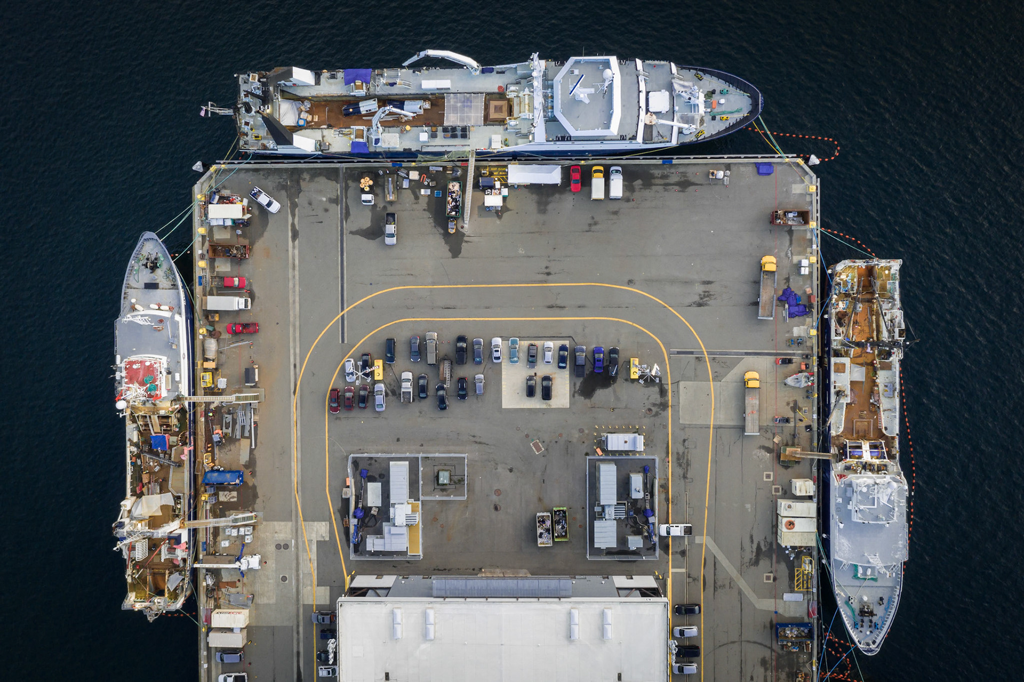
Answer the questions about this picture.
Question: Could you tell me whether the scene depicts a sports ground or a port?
port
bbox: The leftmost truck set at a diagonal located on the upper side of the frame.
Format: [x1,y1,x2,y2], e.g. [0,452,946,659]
[248,186,282,214]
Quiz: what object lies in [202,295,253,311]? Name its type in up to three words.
vehicle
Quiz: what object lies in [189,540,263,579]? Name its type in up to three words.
truck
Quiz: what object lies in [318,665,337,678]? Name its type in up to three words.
vehicle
